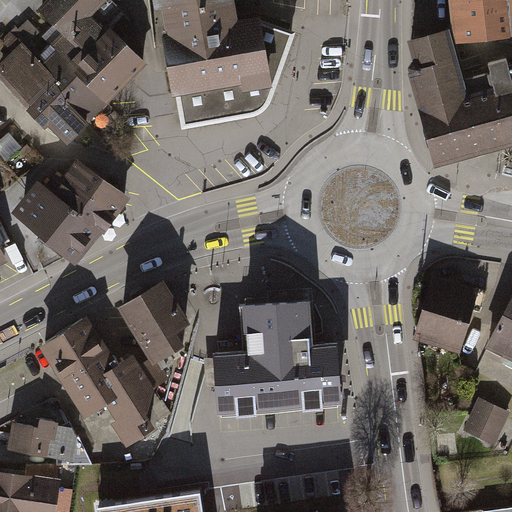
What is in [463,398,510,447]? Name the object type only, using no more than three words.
shed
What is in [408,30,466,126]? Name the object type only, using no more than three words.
house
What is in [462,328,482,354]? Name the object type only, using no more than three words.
vehicle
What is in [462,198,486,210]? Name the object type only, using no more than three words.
vehicle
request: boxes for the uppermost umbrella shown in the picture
[95,114,108,128]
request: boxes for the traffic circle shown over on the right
[284,130,436,284]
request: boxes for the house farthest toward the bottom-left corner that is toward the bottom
[0,464,72,512]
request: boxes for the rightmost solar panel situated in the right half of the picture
[324,388,339,404]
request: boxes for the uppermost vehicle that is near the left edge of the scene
[4,244,24,270]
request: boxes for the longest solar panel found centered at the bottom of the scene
[258,390,300,410]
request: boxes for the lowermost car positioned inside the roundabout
[331,252,352,264]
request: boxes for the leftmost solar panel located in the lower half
[218,396,234,412]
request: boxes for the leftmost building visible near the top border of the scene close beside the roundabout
[161,0,294,132]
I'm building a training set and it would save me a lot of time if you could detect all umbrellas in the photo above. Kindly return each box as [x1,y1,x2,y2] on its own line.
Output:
[103,228,116,241]
[112,214,125,228]
[95,114,108,128]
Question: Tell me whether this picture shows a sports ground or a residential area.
residential area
